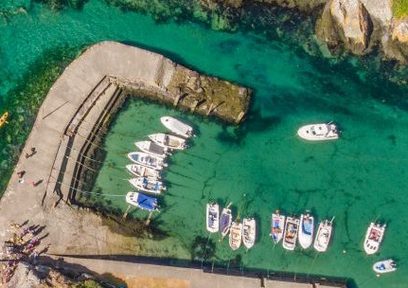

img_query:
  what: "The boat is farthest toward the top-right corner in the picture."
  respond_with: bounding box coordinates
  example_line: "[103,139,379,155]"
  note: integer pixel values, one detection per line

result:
[298,125,344,142]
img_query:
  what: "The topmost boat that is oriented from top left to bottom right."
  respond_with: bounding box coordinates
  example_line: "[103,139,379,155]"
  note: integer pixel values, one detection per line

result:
[161,116,195,141]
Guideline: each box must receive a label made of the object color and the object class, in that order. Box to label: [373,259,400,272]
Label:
white boat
